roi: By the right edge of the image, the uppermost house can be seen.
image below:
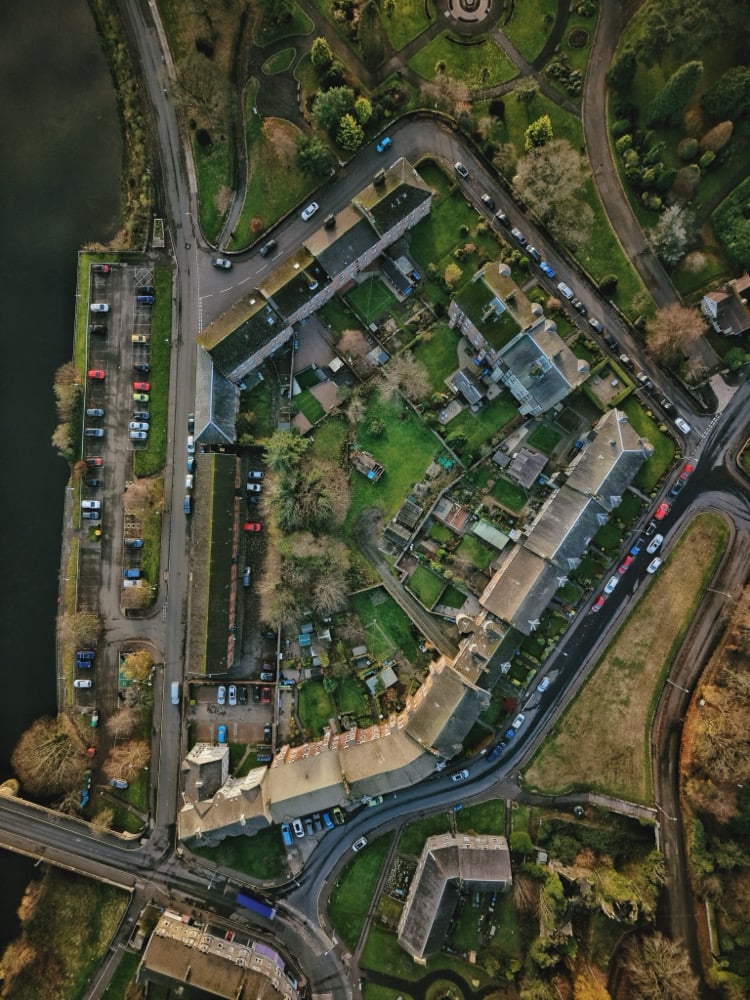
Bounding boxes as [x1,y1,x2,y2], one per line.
[696,276,750,342]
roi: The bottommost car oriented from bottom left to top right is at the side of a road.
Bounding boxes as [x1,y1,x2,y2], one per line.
[350,838,368,854]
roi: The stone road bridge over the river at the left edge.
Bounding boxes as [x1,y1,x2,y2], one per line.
[0,776,132,896]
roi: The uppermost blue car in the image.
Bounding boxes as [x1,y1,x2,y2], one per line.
[375,136,392,150]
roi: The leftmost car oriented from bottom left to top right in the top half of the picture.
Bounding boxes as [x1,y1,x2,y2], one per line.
[258,239,276,255]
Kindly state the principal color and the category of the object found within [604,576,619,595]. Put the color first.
white car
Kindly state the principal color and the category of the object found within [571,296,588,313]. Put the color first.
gray car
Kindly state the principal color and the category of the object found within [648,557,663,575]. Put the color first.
white car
